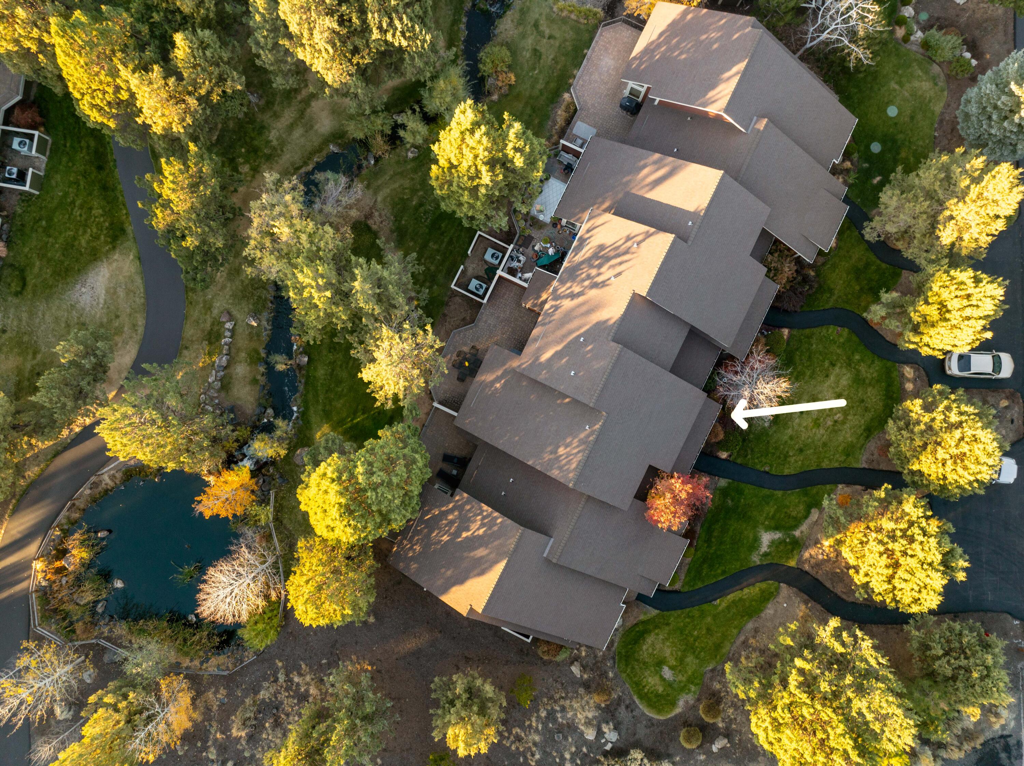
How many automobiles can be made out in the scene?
two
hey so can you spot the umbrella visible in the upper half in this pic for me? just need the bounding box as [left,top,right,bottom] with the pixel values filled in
[536,252,564,268]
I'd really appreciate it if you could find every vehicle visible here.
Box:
[998,455,1021,485]
[939,350,1011,380]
